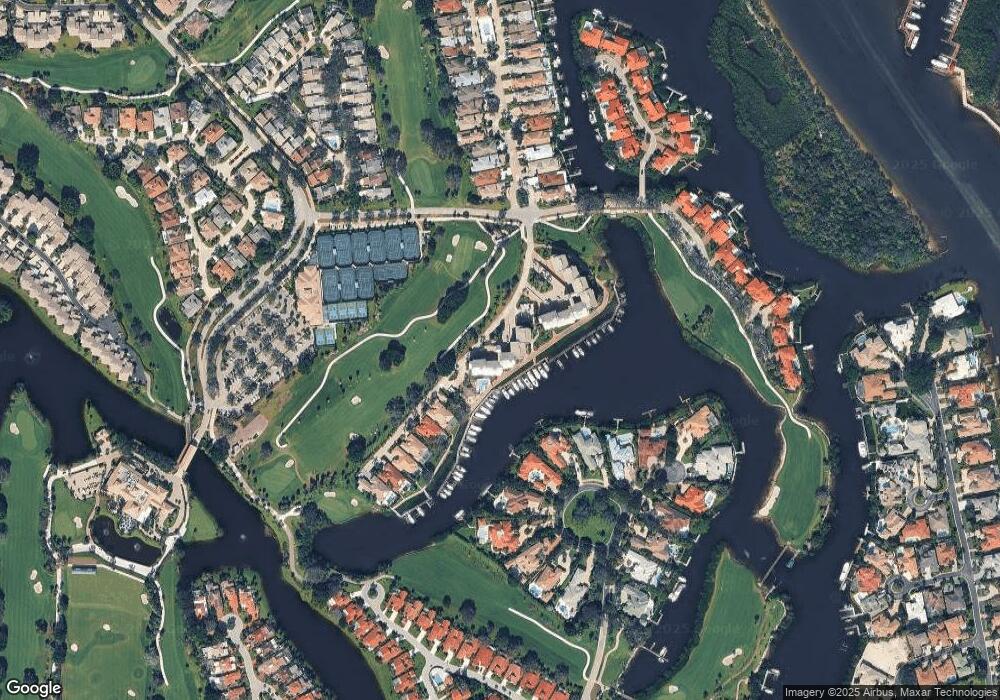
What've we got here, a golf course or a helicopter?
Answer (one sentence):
It is a golf course that can be seen here.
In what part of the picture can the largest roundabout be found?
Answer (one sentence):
The largest roundabout appears toward the bottom of the photo.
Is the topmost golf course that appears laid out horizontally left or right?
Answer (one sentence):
It is on the left.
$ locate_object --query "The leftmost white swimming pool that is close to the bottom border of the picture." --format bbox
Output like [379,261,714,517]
[430,668,447,692]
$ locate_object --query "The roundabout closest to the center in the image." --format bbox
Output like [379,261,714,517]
[558,479,626,547]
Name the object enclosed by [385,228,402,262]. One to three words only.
tennis court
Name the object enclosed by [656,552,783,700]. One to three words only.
golf course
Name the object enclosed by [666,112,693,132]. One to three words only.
house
